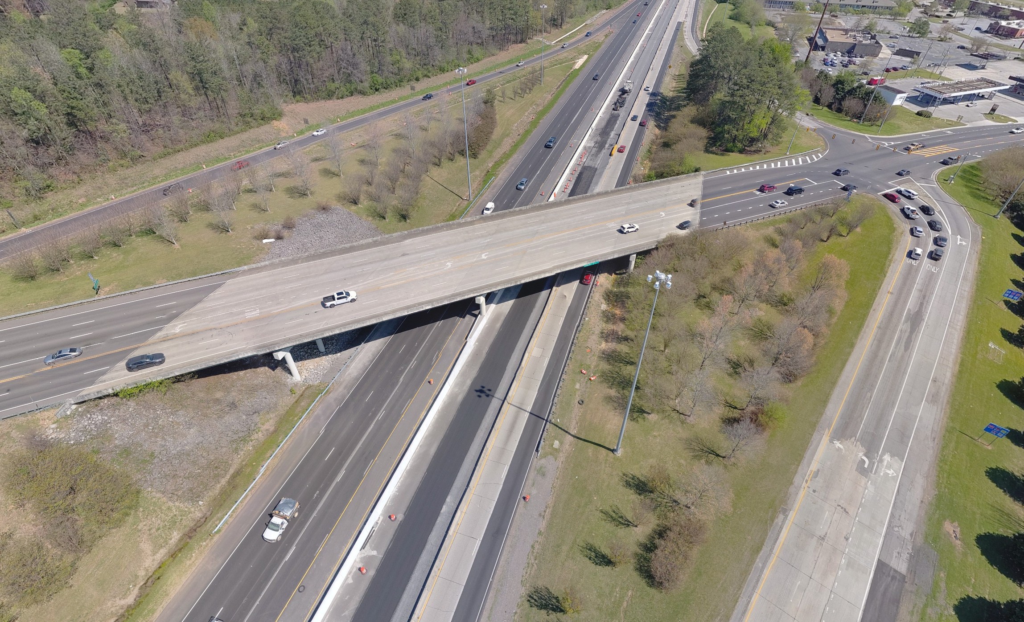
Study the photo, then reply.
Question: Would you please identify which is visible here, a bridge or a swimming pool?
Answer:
bridge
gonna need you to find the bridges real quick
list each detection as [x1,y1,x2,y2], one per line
[64,172,712,404]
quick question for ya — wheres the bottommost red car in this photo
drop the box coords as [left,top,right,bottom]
[581,271,594,286]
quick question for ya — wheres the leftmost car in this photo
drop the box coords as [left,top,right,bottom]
[39,347,83,366]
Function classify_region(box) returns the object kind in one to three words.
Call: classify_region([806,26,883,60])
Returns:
building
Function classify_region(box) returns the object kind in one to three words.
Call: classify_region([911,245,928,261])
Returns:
car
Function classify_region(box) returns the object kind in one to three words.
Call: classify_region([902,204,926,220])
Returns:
vehicle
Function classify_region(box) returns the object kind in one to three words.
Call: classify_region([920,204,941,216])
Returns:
vehicle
